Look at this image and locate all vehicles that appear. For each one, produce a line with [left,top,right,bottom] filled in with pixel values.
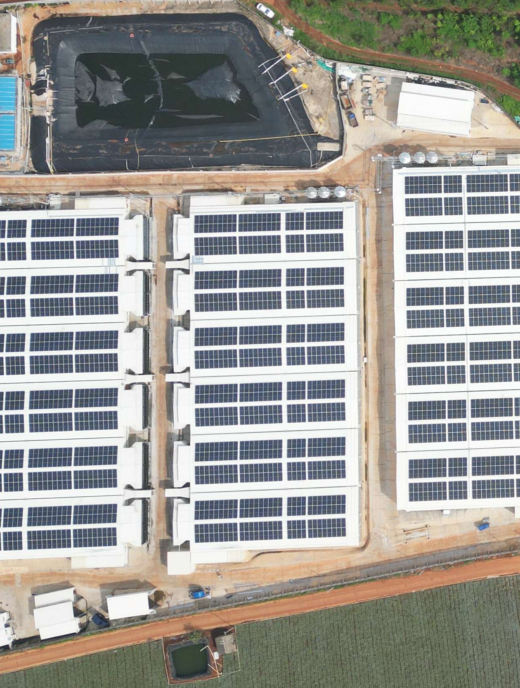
[27,587,77,612]
[340,92,354,113]
[477,522,492,532]
[255,2,274,18]
[0,612,11,631]
[189,590,205,599]
[0,628,18,647]
[33,619,81,644]
[90,612,108,628]
[348,112,358,128]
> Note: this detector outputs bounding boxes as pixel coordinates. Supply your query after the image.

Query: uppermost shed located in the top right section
[397,82,474,138]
